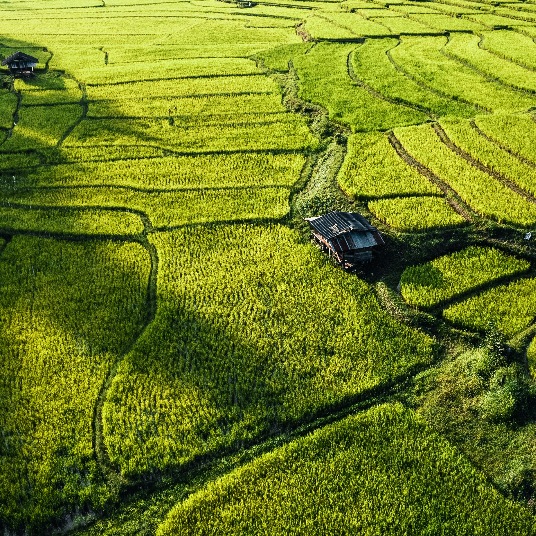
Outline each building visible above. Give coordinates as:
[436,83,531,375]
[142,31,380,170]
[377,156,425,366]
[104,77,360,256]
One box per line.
[1,50,45,79]
[297,210,385,266]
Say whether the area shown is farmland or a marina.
farmland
